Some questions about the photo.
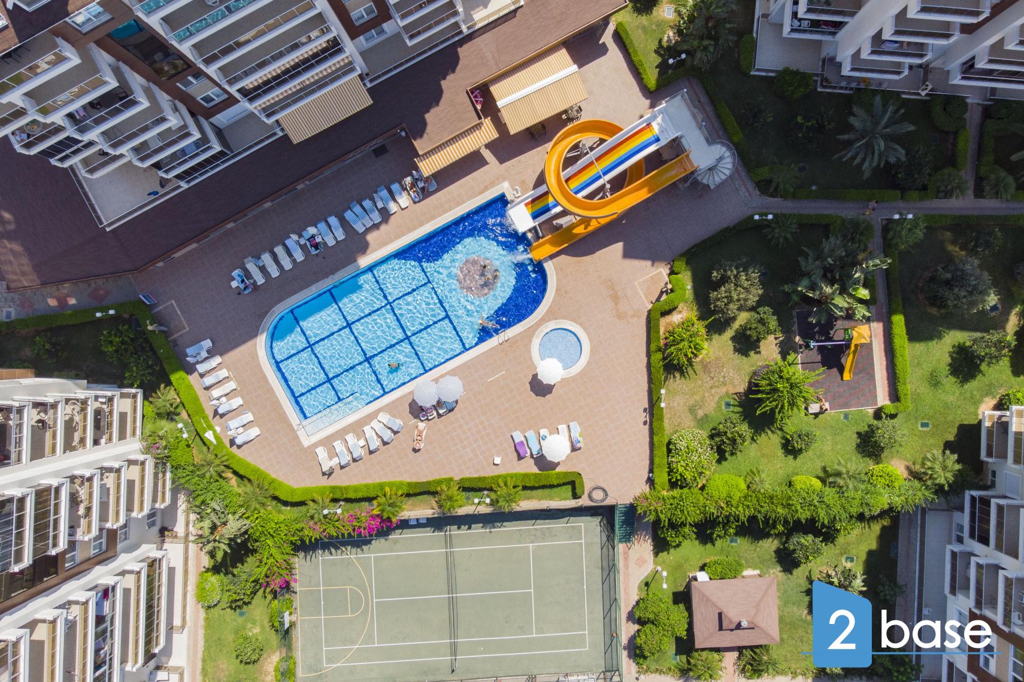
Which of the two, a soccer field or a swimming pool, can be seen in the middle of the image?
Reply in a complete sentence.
Looking in the middle of the image, you will find a swimming pool.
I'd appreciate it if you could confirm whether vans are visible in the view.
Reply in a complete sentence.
No, I can't see a single van in this photo.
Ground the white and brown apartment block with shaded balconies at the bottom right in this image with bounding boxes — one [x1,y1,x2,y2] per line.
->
[901,406,1024,682]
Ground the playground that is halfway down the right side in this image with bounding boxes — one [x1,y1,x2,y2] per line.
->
[795,307,879,414]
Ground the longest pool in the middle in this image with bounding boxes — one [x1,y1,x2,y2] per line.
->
[257,181,556,447]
